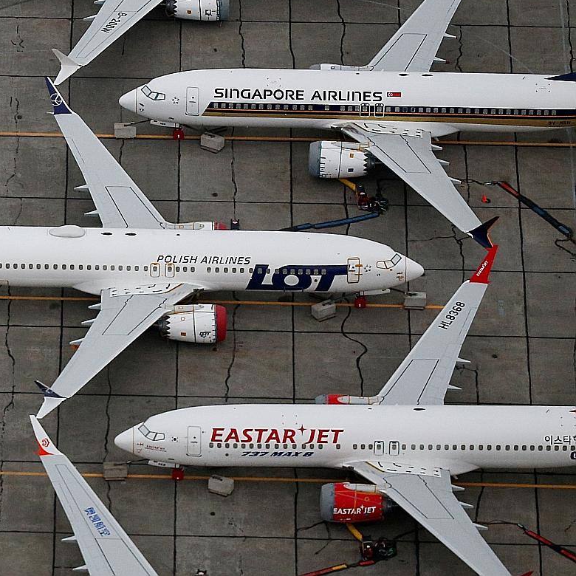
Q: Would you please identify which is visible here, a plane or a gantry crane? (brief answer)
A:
plane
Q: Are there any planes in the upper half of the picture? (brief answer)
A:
Yes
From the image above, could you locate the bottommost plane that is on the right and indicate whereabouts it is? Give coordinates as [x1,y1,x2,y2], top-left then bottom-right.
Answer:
[116,245,576,576]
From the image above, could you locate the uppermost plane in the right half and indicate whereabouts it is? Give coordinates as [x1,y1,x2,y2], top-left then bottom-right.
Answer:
[121,0,576,251]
